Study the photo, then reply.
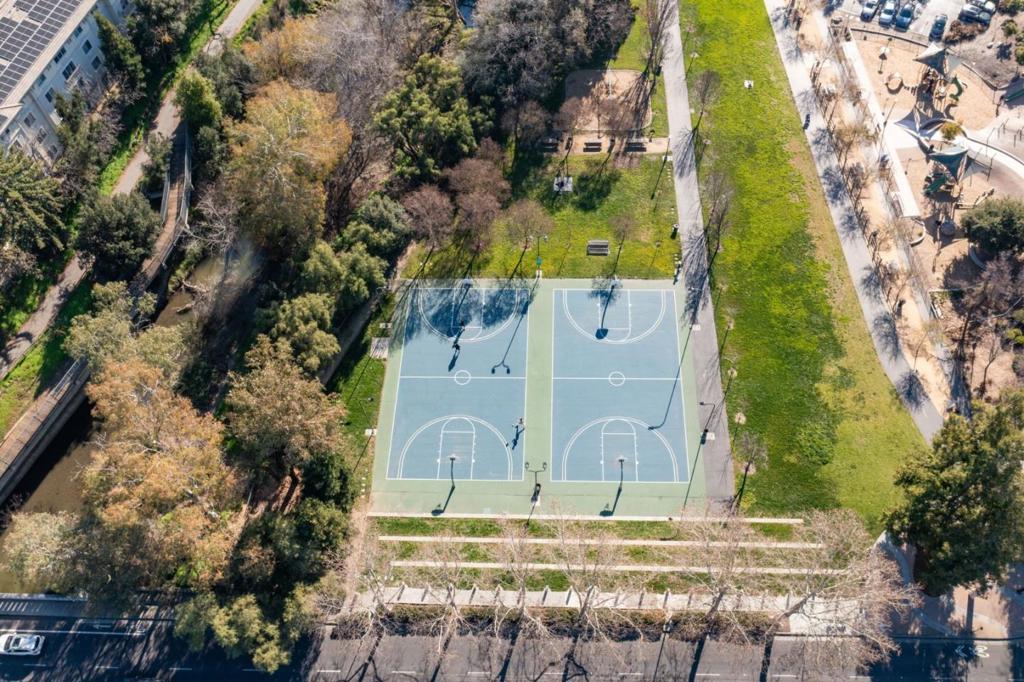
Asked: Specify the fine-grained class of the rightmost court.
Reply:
basketball court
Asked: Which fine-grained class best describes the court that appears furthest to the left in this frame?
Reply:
basketball court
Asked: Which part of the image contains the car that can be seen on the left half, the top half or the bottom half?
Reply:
bottom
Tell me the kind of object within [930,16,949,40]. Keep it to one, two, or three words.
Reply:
car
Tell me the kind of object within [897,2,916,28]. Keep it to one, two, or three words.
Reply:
car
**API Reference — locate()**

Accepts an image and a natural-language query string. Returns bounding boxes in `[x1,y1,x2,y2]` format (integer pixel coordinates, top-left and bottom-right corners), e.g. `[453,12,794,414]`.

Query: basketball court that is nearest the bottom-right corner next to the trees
[536,279,706,519]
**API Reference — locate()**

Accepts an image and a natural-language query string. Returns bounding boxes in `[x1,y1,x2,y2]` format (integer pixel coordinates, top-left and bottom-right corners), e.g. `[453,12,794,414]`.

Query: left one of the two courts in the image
[368,279,541,516]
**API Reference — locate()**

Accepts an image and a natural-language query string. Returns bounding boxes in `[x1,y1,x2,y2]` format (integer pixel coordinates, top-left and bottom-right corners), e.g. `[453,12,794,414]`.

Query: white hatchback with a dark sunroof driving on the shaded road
[0,632,44,655]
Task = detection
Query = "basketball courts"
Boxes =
[368,279,541,516]
[536,279,706,519]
